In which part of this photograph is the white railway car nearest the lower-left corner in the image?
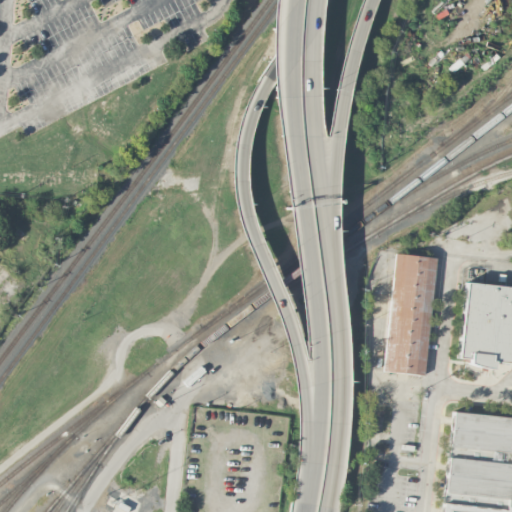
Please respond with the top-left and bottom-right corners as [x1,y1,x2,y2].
[114,406,142,438]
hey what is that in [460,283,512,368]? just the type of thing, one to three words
building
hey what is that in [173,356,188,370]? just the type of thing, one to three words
rail car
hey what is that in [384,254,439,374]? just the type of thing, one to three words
building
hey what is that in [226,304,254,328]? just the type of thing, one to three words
rail car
